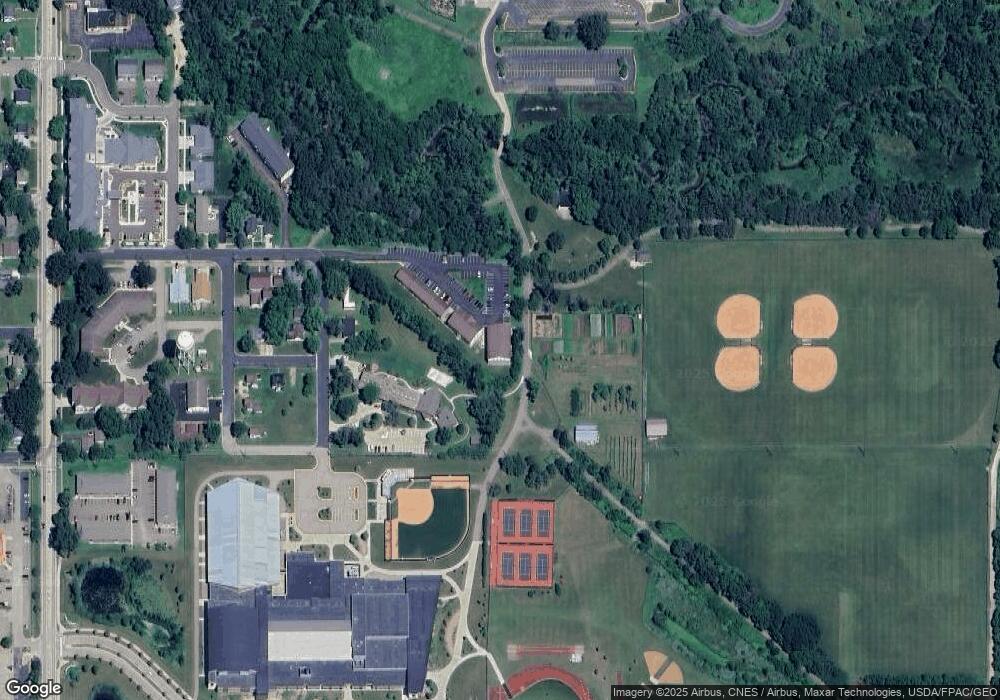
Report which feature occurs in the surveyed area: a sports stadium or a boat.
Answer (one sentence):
Of the two, only a sports stadium appears.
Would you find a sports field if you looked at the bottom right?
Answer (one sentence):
Yes, you'll find a sports field at the bottom right.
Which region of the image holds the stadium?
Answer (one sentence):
You can find the stadium in the bottom area of the picture.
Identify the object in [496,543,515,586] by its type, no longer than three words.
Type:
tennis court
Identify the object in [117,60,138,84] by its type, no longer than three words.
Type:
house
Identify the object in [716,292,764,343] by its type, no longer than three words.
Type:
baseball field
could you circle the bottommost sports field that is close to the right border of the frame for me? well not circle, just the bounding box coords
[645,447,989,676]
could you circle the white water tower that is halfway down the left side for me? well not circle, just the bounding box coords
[173,334,196,380]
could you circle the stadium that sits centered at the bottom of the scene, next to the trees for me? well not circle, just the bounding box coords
[385,474,471,561]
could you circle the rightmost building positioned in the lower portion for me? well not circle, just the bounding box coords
[646,420,667,435]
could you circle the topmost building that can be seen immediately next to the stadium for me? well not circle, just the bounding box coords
[361,372,457,427]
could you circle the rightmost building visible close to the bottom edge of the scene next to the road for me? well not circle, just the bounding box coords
[207,477,441,699]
